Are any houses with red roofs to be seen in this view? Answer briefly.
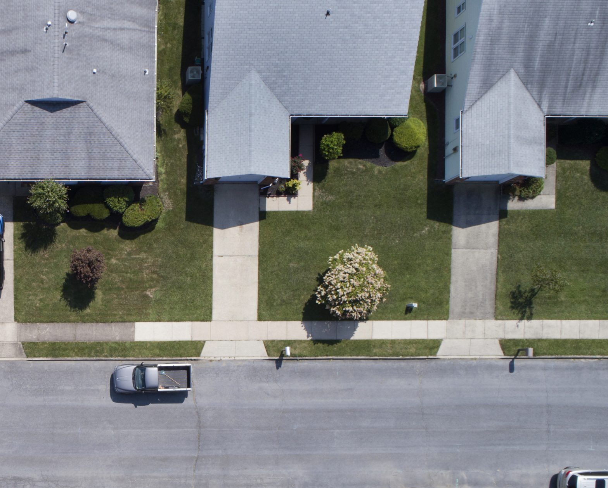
No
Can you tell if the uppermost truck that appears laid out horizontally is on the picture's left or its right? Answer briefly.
left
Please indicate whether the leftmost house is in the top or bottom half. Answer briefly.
top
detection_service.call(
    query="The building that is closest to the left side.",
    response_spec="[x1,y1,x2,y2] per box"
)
[0,0,155,185]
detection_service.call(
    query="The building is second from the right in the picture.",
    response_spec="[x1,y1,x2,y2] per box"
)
[195,0,424,195]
